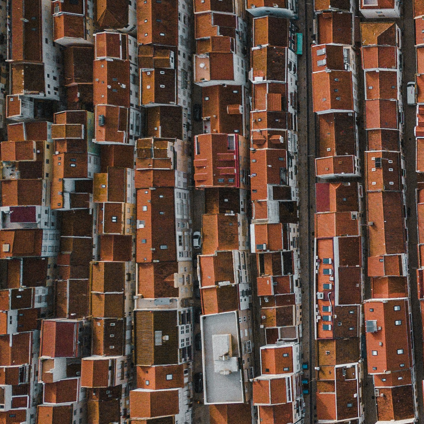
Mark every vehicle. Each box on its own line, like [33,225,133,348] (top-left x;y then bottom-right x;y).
[194,333,202,352]
[193,231,202,248]
[407,84,416,104]
[193,306,202,325]
[193,103,203,122]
